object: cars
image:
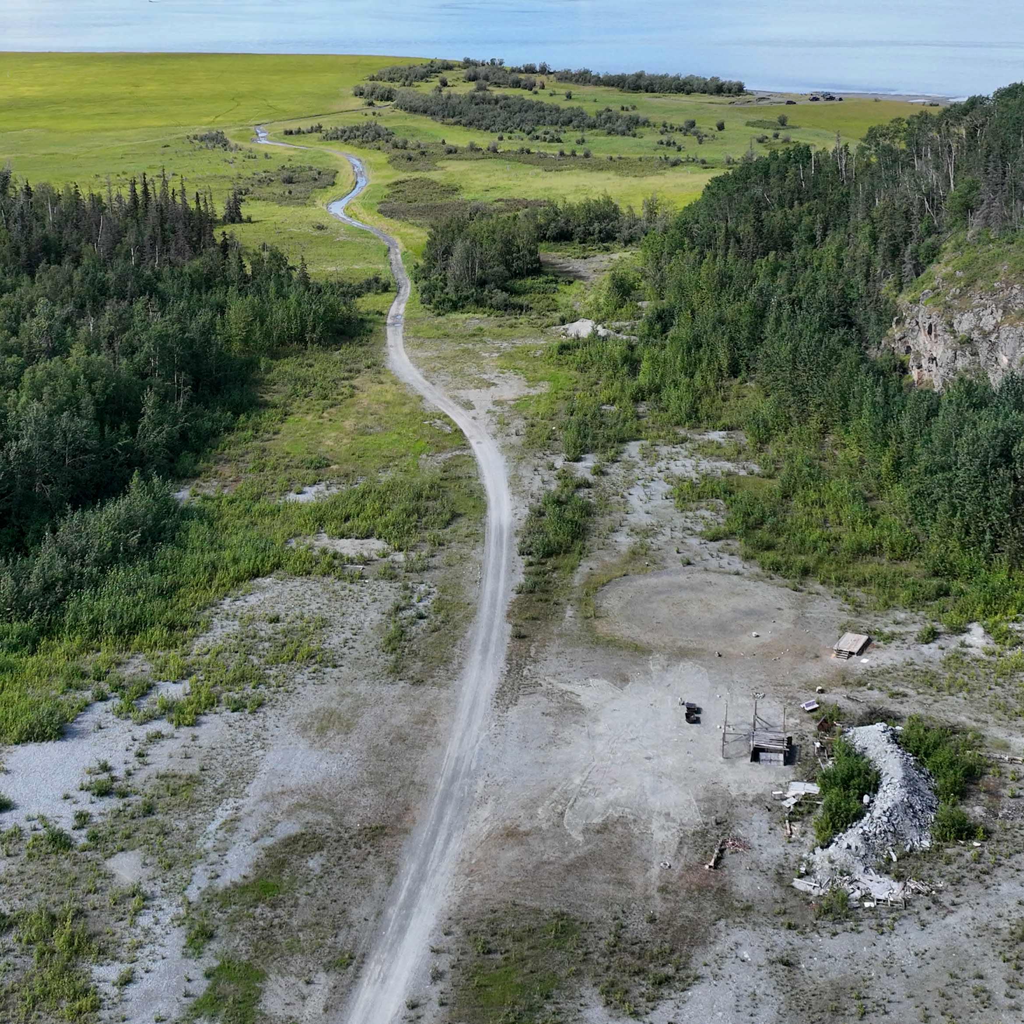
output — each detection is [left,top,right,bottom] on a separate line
[809,96,821,101]
[785,99,797,104]
[824,95,837,100]
[819,92,832,97]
